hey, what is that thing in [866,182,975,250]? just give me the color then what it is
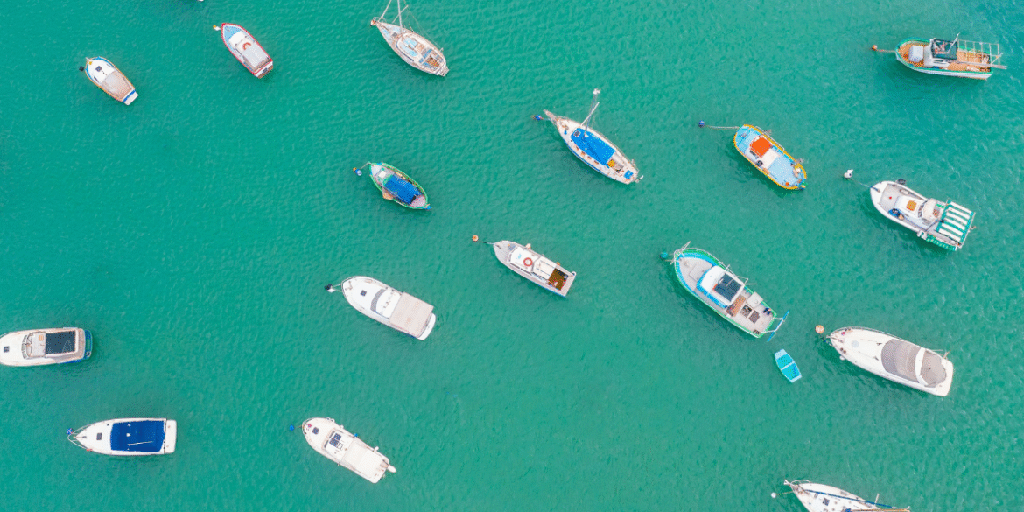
white boat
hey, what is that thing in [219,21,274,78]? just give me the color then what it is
white boat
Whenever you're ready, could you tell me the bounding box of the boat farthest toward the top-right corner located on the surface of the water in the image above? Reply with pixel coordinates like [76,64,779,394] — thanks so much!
[893,29,1007,79]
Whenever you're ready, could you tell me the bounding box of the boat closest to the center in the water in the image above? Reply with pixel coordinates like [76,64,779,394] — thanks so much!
[493,240,576,298]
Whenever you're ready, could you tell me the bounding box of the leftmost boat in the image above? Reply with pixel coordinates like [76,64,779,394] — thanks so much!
[0,327,95,367]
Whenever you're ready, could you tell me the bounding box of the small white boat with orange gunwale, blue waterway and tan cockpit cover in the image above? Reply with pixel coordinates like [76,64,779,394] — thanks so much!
[83,56,138,104]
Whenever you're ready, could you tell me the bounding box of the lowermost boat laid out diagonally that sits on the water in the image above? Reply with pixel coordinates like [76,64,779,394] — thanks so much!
[298,417,396,482]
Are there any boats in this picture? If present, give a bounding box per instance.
[784,479,912,512]
[734,126,805,194]
[866,182,975,250]
[829,325,952,397]
[893,29,1007,79]
[83,56,138,104]
[374,0,449,78]
[298,417,396,482]
[673,240,789,341]
[544,90,645,188]
[219,21,274,78]
[0,327,95,367]
[63,418,178,455]
[336,273,437,339]
[493,240,576,298]
[775,350,802,382]
[366,160,431,214]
